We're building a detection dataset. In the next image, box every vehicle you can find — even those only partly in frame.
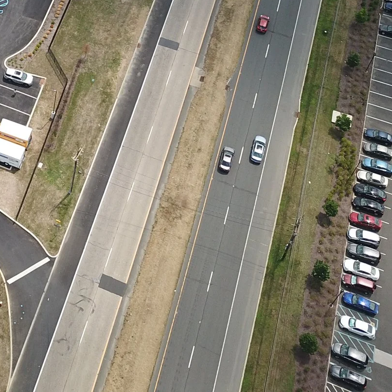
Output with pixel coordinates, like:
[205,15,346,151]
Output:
[255,15,270,36]
[353,184,387,206]
[348,229,379,249]
[382,5,392,15]
[347,213,382,234]
[343,260,379,283]
[249,135,267,164]
[337,317,375,342]
[346,245,381,267]
[4,68,32,88]
[0,138,26,170]
[0,118,33,151]
[356,171,388,190]
[361,158,392,178]
[340,273,377,298]
[362,143,392,163]
[331,344,369,371]
[328,366,367,392]
[341,292,379,318]
[362,129,392,148]
[378,26,392,38]
[350,197,385,219]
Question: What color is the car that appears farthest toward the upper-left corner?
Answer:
white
